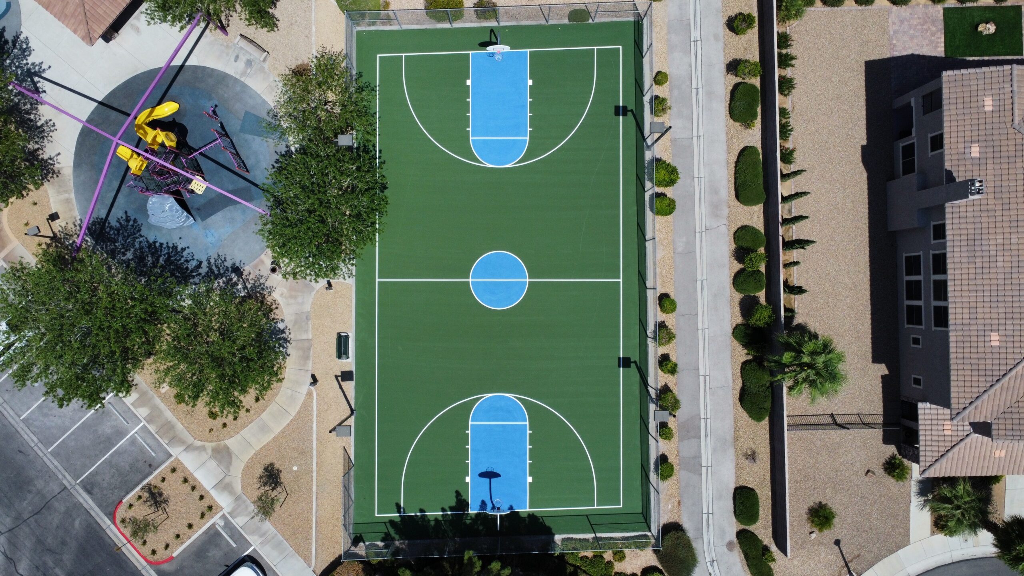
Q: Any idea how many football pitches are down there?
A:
0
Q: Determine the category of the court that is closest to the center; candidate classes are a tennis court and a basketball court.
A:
basketball court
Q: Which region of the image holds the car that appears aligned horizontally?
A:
bottom left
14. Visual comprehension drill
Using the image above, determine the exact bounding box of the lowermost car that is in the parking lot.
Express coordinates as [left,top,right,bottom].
[219,556,264,576]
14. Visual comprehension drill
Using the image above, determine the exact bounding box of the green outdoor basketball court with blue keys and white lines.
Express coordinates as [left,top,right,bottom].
[352,22,650,542]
